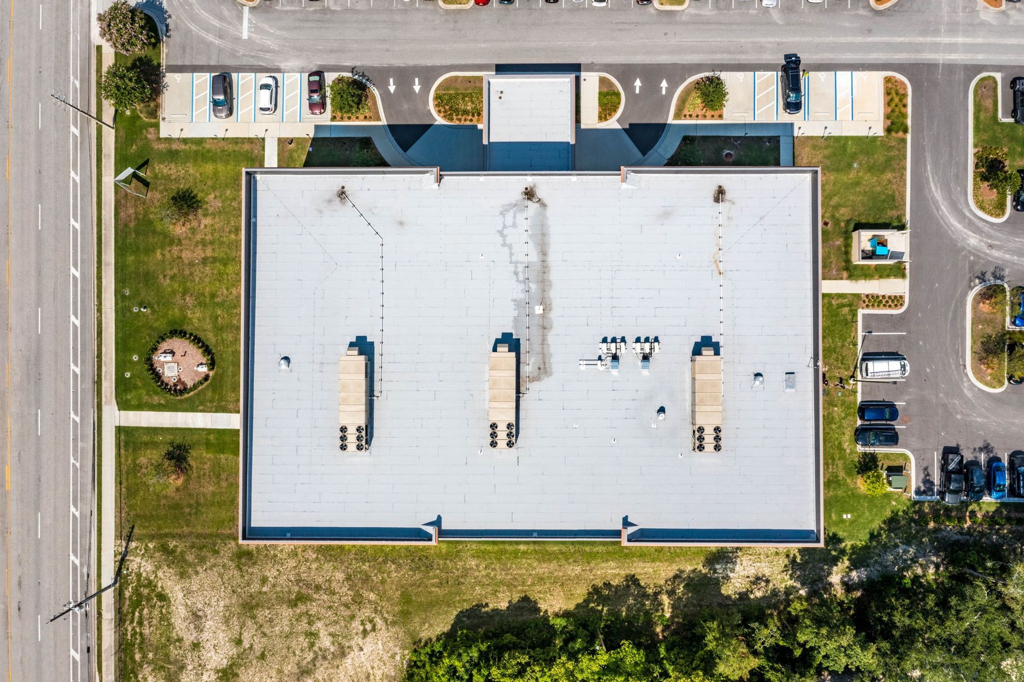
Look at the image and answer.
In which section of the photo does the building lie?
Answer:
center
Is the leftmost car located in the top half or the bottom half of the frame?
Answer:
top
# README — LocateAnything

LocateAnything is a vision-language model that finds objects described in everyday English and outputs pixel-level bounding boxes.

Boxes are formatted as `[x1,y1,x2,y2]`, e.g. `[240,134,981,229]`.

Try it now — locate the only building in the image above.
[239,75,823,547]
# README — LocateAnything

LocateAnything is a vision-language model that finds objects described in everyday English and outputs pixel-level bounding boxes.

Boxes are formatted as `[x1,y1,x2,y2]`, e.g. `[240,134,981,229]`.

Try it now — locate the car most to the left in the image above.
[210,74,232,118]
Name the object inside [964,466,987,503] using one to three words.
car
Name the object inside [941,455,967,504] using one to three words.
truck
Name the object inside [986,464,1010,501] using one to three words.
car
